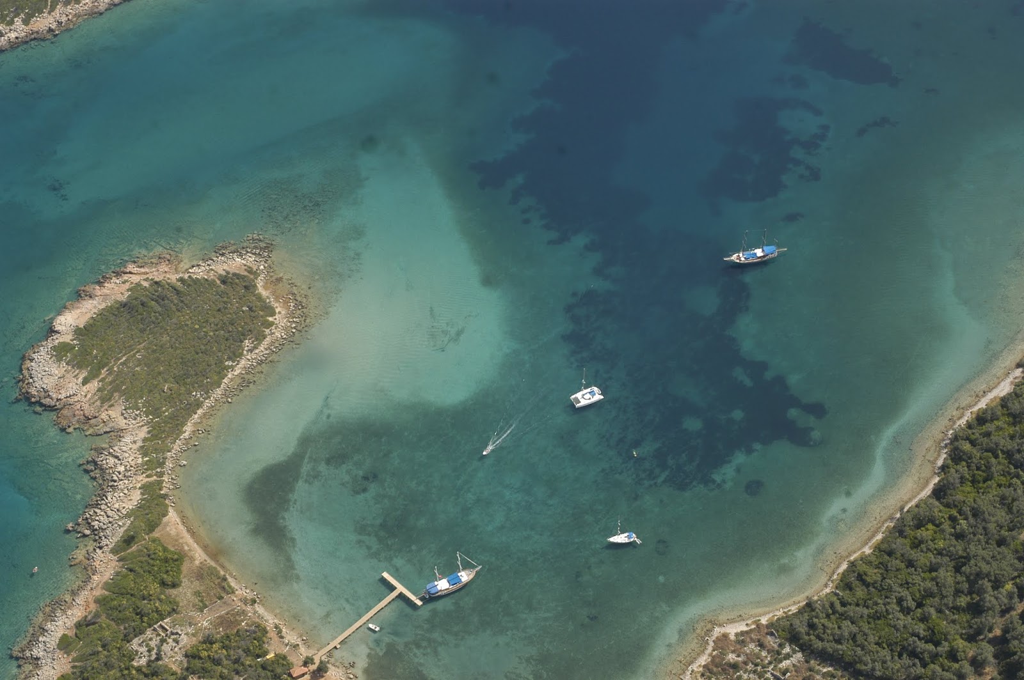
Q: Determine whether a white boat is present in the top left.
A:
No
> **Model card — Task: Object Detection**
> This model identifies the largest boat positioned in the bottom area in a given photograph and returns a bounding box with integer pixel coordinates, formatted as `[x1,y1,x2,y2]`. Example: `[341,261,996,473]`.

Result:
[413,555,483,603]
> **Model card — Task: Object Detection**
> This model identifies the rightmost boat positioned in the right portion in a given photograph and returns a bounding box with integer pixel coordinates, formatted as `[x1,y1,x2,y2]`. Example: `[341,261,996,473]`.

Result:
[725,228,788,262]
